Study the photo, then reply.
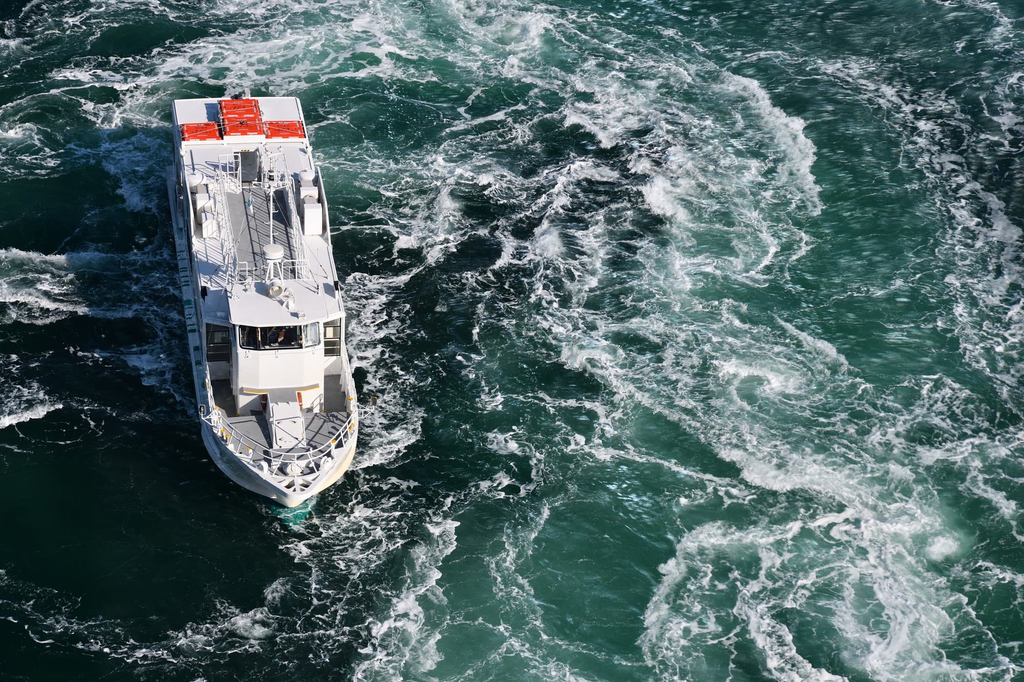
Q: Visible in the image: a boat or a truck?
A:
boat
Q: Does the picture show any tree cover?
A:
No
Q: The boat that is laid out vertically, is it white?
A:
Yes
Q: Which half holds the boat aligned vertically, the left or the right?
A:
left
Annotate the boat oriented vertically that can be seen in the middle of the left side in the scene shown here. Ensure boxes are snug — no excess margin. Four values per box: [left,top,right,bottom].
[169,91,378,506]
